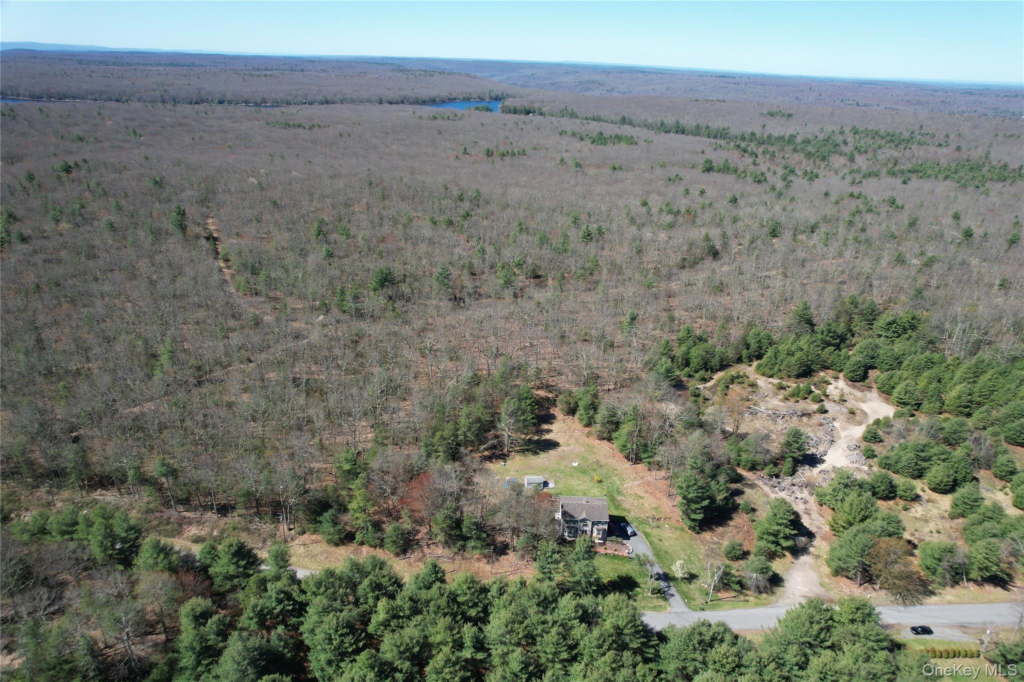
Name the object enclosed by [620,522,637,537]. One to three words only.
car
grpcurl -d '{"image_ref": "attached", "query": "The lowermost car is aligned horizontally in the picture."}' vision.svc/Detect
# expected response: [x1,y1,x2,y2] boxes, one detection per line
[908,625,935,638]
